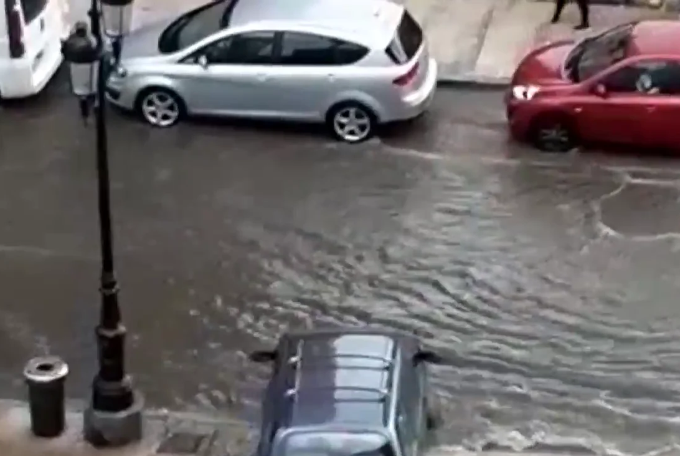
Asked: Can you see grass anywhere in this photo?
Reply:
No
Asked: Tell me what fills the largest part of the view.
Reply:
water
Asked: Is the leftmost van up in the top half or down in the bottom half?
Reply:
top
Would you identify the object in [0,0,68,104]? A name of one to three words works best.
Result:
van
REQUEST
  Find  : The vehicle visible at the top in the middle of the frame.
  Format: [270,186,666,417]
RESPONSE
[110,0,435,140]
